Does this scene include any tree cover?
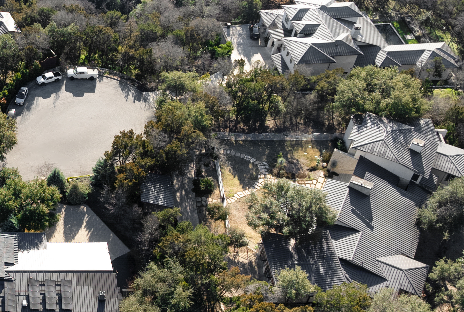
Yes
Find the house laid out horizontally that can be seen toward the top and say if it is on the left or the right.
right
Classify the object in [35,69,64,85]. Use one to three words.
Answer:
vehicle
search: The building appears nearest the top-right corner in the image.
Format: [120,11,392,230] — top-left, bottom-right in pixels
[259,0,459,89]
